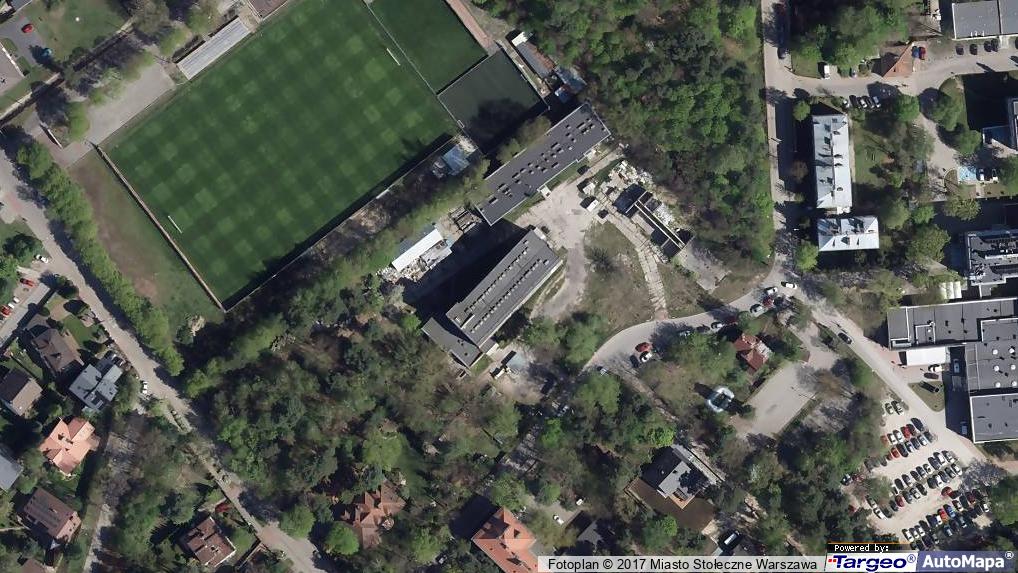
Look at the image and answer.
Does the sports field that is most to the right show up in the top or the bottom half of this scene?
top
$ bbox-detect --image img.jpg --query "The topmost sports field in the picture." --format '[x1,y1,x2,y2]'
[367,0,523,95]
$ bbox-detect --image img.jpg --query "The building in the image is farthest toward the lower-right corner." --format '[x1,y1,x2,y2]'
[967,393,1018,444]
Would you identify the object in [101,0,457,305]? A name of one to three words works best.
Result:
soccer field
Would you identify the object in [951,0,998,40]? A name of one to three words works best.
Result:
building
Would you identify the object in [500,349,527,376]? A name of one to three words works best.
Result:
shed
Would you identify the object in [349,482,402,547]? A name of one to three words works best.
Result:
house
